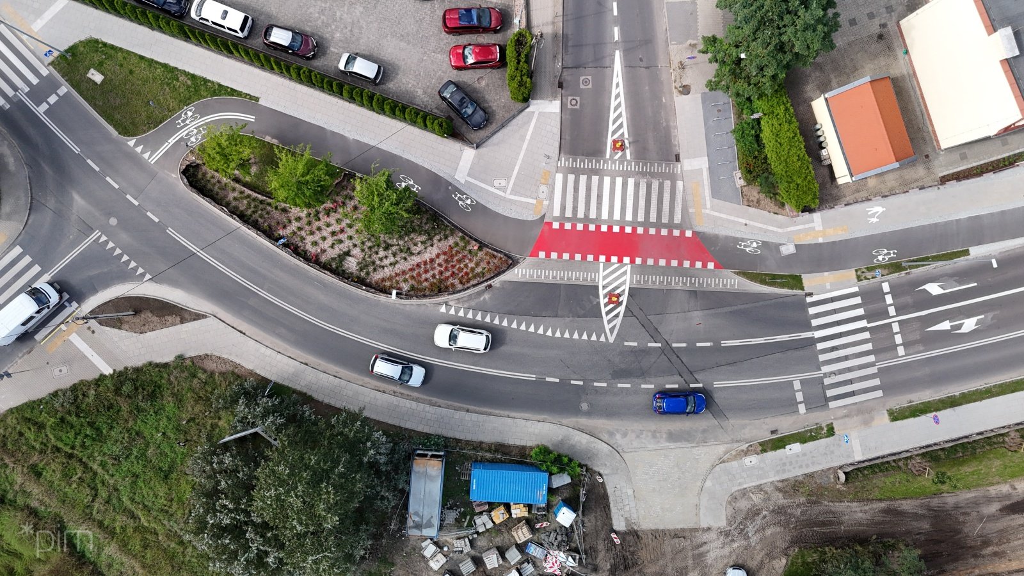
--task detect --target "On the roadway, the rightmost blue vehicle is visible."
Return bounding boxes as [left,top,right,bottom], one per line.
[651,389,706,418]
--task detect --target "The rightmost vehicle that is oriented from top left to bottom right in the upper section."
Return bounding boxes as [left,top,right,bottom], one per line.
[436,76,490,133]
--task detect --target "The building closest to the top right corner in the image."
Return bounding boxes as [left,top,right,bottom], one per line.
[899,0,1024,150]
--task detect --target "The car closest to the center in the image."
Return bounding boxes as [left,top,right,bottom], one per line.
[433,322,493,353]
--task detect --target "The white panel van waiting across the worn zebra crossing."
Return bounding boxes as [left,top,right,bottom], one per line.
[0,284,66,350]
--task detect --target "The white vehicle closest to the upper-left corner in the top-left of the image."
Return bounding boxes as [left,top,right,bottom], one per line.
[188,0,255,41]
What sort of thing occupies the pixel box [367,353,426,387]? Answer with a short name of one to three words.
car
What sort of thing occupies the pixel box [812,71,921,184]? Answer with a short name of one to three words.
building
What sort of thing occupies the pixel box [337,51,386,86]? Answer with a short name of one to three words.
car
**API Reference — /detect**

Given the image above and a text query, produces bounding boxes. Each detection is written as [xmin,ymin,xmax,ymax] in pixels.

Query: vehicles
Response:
[259,22,319,62]
[442,4,502,36]
[188,0,255,41]
[651,389,706,418]
[367,353,426,387]
[433,322,493,353]
[127,0,192,23]
[448,40,504,72]
[337,51,386,86]
[436,76,490,133]
[0,284,66,350]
